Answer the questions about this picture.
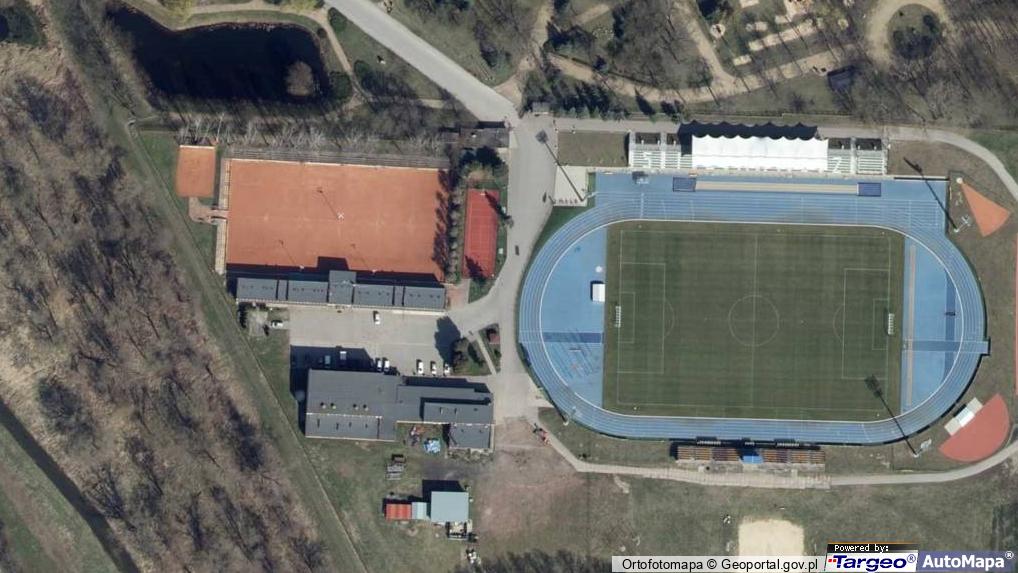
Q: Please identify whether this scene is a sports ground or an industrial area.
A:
sports ground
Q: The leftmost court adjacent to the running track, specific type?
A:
tennis court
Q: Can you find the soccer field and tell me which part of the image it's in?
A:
right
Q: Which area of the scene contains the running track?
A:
right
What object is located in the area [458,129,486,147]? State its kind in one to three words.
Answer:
shed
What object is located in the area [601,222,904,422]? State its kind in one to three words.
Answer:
soccer field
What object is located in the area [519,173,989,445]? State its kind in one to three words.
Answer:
running track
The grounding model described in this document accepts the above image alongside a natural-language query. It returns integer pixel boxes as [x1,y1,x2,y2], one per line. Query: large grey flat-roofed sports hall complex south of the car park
[303,370,494,449]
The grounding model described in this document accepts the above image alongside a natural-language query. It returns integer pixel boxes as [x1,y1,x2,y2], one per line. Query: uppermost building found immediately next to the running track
[236,268,446,315]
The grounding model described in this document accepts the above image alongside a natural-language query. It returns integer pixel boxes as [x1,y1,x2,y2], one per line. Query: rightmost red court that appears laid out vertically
[463,189,499,279]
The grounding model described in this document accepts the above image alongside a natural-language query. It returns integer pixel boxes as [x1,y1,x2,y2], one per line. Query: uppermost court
[175,144,217,197]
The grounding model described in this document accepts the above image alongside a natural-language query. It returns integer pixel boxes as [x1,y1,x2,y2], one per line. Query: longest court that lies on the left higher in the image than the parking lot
[227,160,448,279]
